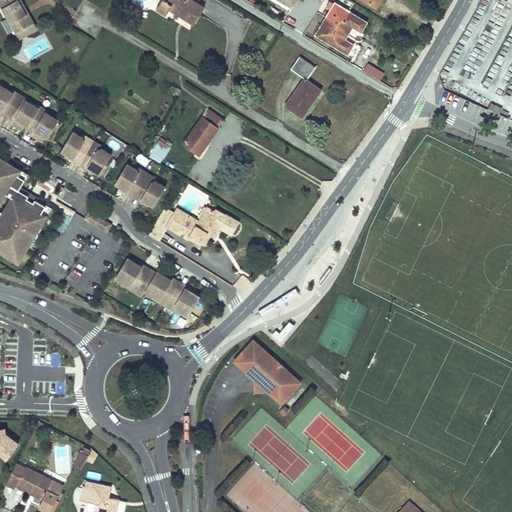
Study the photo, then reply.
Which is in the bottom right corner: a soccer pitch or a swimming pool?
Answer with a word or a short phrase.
soccer pitch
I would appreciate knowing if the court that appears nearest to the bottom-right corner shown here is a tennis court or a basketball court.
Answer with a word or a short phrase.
tennis court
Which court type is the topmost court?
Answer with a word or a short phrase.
basketball court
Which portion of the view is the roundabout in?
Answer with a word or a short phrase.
bottom left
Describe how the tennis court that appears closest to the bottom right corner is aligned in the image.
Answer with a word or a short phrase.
on a diagonal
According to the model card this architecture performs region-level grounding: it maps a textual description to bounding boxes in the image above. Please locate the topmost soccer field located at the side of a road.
[354,136,512,364]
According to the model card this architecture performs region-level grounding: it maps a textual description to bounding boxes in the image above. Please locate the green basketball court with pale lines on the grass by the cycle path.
[318,295,368,356]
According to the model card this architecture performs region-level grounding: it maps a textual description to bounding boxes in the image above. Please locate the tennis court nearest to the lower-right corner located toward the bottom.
[286,396,381,488]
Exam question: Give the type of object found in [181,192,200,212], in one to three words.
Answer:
swimming pool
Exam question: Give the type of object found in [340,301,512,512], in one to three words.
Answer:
soccer field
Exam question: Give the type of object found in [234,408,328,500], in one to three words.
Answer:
tennis court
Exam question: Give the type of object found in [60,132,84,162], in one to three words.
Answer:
house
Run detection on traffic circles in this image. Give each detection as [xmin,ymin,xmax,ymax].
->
[86,336,188,438]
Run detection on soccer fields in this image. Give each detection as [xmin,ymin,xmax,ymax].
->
[463,419,512,512]
[354,136,512,364]
[340,301,512,512]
